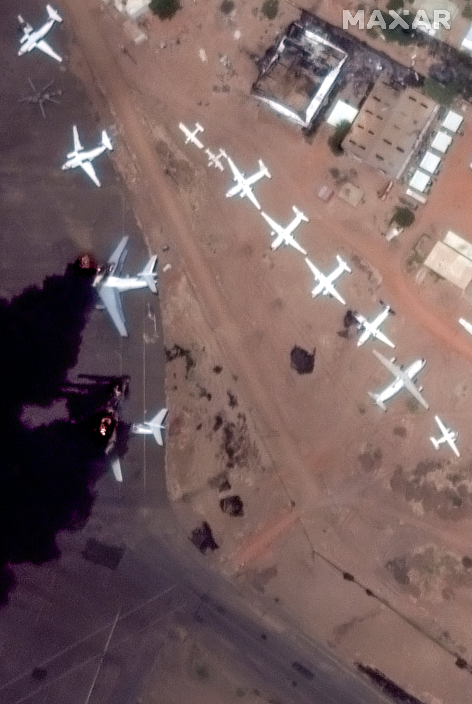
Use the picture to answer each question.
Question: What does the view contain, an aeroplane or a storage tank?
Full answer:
This aerial view contains an aeroplane.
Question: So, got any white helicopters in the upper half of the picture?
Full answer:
No, no white helicopter can be made out in the upper half of the picture.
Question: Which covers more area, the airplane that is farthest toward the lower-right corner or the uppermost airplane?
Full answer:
The larger object is the uppermost airplane, with the airplane that is farthest toward the lower-right corner being the smaller of the pair.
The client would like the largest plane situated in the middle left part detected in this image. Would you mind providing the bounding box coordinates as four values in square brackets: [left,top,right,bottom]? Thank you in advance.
[92,237,160,336]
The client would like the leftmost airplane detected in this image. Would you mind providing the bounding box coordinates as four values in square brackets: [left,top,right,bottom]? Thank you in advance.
[18,3,62,61]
